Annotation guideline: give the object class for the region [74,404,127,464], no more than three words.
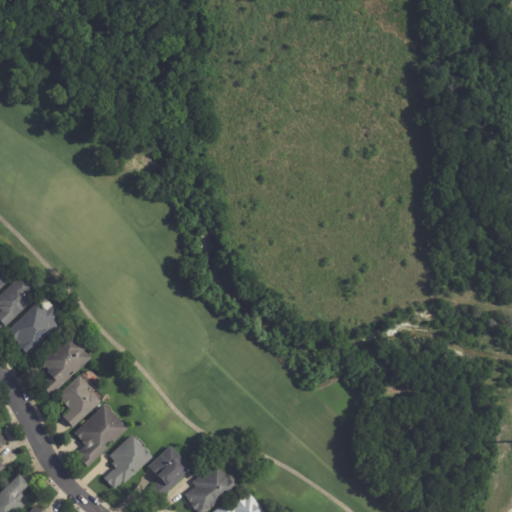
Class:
house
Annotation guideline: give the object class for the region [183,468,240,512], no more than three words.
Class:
house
